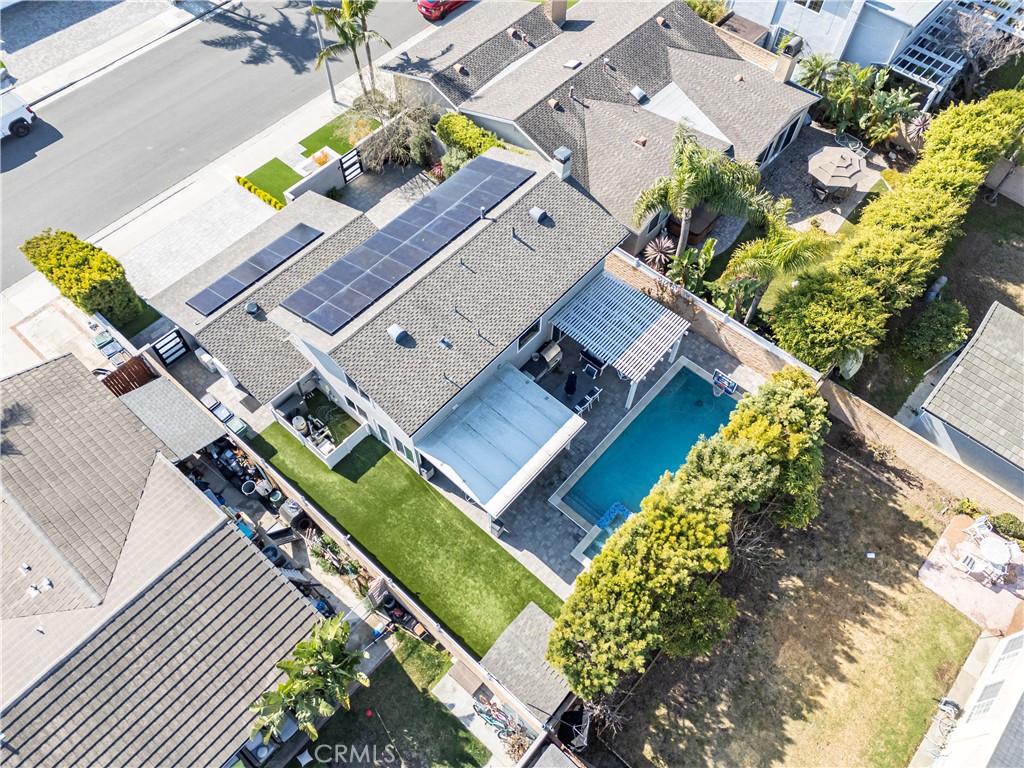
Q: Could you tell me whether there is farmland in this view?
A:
No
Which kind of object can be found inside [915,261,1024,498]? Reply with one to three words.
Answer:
house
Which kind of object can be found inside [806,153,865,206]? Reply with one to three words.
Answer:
umbrella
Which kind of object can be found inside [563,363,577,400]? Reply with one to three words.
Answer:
umbrella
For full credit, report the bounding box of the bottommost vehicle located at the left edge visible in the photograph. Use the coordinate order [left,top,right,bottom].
[0,99,43,143]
